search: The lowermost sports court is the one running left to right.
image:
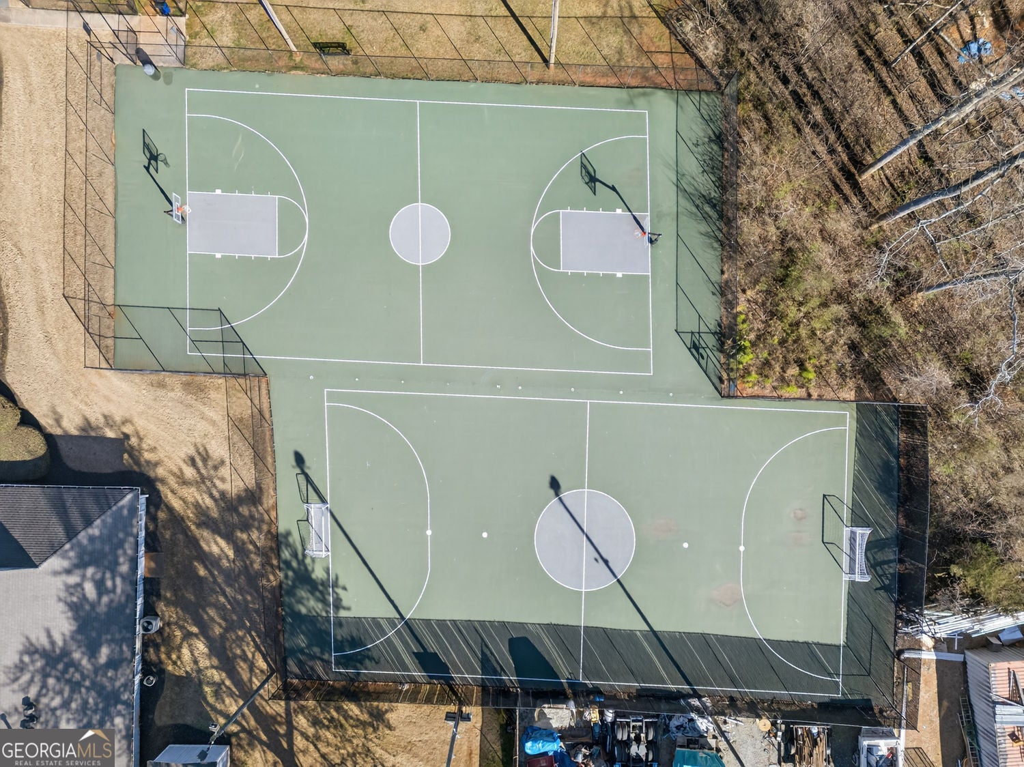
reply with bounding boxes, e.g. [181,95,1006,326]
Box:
[267,376,898,710]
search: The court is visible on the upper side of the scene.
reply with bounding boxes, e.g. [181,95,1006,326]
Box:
[113,63,722,397]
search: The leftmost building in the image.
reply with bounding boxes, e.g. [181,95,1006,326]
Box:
[0,484,166,767]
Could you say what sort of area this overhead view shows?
sports ground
